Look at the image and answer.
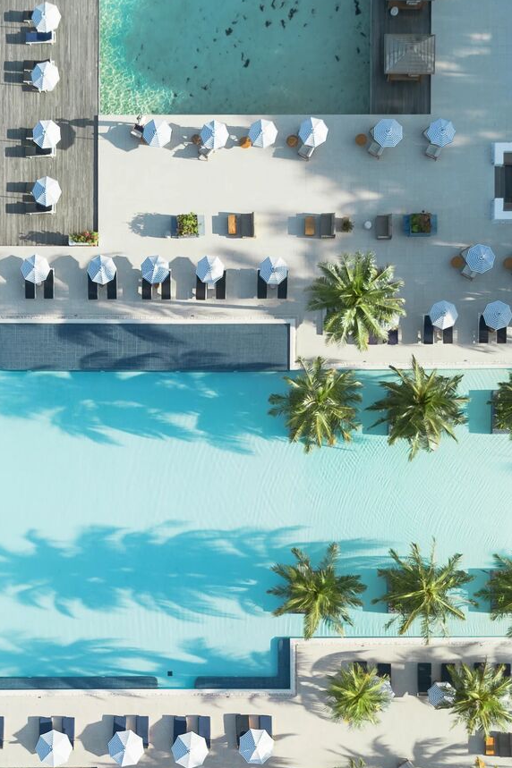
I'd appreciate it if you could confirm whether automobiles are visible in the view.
No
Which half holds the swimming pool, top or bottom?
bottom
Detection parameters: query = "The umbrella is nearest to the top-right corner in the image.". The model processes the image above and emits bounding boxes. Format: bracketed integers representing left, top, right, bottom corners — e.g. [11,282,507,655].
[426,119,455,148]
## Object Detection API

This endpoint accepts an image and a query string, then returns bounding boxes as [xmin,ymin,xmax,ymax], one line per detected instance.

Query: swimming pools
[0,325,512,689]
